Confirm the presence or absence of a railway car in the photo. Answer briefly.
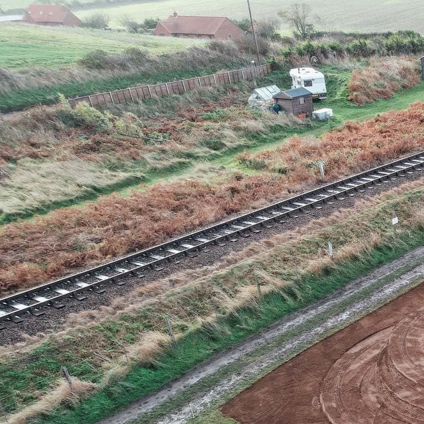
No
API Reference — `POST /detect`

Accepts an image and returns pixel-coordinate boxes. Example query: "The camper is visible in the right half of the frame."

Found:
[288,64,326,99]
